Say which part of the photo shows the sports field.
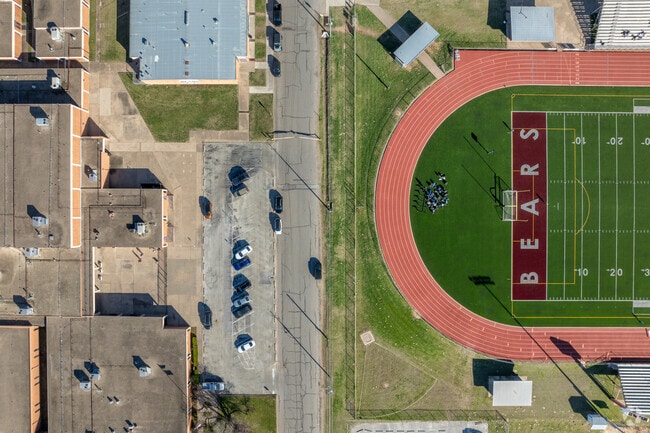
right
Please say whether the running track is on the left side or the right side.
right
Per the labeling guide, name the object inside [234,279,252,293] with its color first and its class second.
black vehicle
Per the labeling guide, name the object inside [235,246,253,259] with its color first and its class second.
white vehicle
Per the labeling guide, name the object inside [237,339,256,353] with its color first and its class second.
white vehicle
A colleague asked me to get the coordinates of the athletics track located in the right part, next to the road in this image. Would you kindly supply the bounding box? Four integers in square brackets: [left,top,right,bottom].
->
[375,48,650,363]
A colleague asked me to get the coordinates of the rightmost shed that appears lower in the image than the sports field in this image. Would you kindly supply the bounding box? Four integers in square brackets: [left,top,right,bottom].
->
[584,411,607,430]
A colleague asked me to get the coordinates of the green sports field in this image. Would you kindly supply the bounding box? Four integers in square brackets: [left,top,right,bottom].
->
[411,86,650,326]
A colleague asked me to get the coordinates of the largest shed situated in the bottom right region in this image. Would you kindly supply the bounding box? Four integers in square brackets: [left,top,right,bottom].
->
[489,378,532,406]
